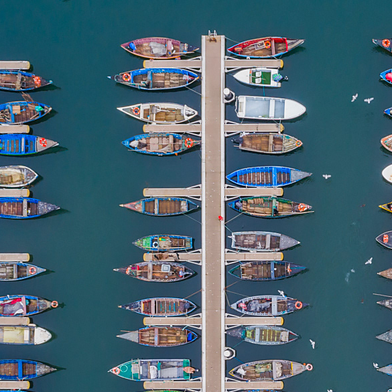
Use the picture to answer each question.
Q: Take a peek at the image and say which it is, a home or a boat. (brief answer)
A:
boat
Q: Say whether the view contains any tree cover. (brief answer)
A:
No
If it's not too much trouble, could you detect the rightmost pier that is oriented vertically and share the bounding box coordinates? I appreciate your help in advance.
[143,29,285,392]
